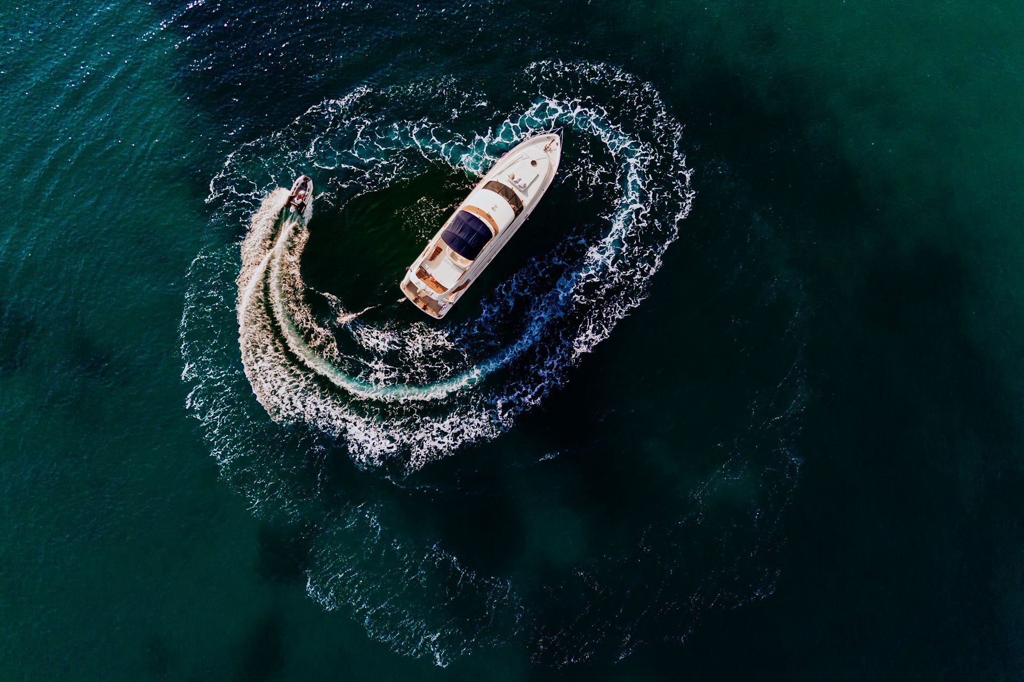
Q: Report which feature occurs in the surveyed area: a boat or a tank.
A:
boat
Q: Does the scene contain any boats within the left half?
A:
Yes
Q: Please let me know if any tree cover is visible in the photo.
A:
No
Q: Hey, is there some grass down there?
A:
No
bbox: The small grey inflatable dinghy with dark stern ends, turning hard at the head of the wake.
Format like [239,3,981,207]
[284,173,313,215]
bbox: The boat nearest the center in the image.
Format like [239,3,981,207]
[402,125,563,320]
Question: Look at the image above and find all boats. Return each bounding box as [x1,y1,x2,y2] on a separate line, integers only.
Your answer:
[284,173,313,215]
[402,125,563,320]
